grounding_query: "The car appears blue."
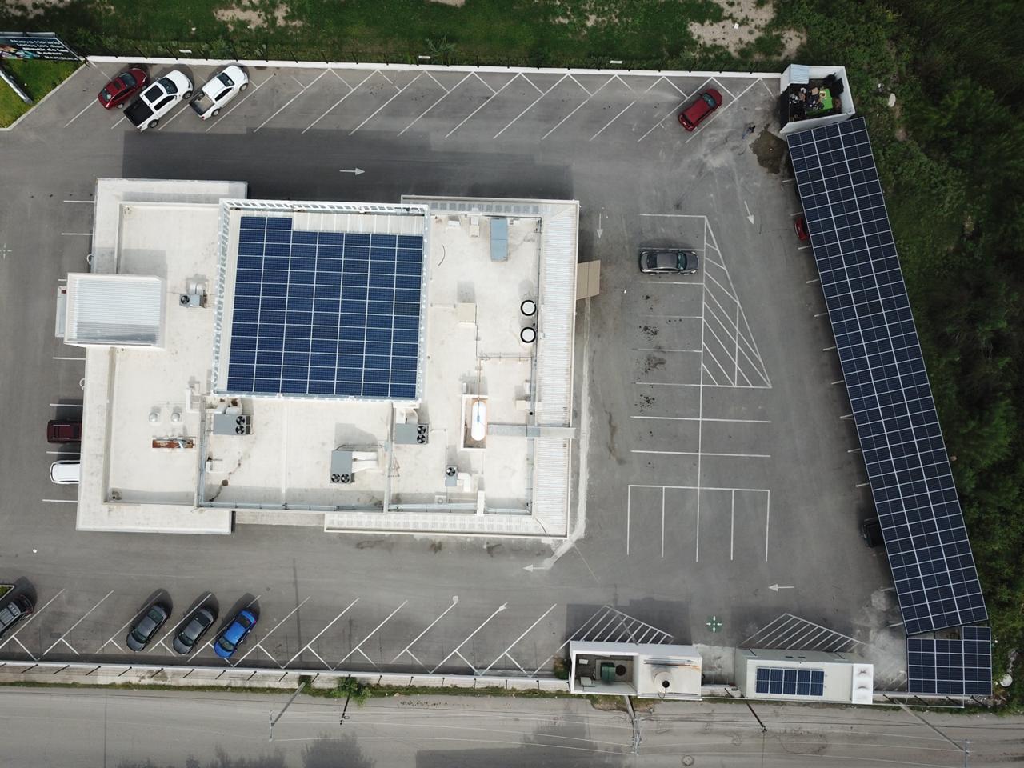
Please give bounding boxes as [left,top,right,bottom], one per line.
[213,606,261,660]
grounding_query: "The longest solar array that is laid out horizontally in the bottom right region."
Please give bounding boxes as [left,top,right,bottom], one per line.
[753,668,826,696]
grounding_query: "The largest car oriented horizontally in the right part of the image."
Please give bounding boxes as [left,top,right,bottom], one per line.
[639,246,699,275]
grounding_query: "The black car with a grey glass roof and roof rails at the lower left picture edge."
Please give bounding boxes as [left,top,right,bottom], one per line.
[0,594,38,645]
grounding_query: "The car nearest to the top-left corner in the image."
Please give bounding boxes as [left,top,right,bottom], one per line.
[96,67,151,112]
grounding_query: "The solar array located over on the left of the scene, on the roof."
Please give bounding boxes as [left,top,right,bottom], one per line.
[228,217,423,397]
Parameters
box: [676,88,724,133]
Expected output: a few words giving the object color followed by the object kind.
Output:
red car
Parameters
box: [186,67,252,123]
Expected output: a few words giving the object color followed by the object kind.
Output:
white truck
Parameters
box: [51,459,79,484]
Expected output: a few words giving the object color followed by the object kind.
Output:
white car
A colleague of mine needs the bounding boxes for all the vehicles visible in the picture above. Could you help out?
[0,594,38,645]
[186,67,252,123]
[122,71,196,134]
[51,459,79,484]
[96,67,151,112]
[676,88,724,133]
[174,601,220,654]
[127,599,174,652]
[47,419,81,444]
[639,246,699,275]
[213,606,261,660]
